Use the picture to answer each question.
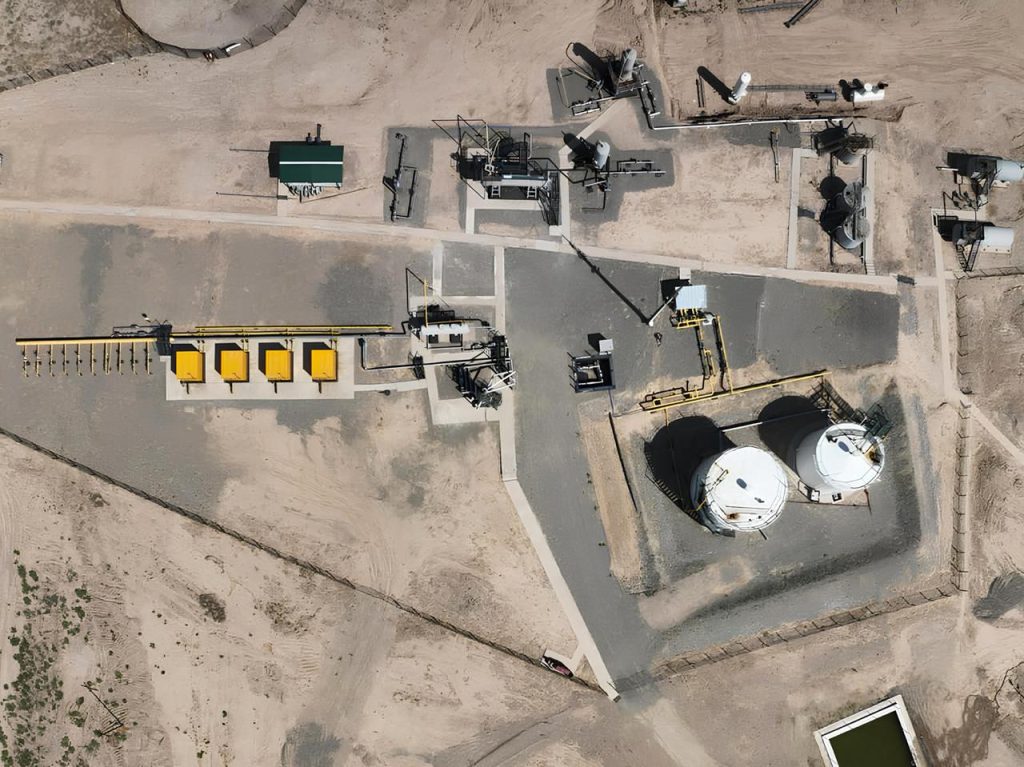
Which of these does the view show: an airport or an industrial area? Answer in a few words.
industrial area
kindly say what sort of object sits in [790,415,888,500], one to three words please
storage tank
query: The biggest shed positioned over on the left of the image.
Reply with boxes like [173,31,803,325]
[279,146,345,192]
